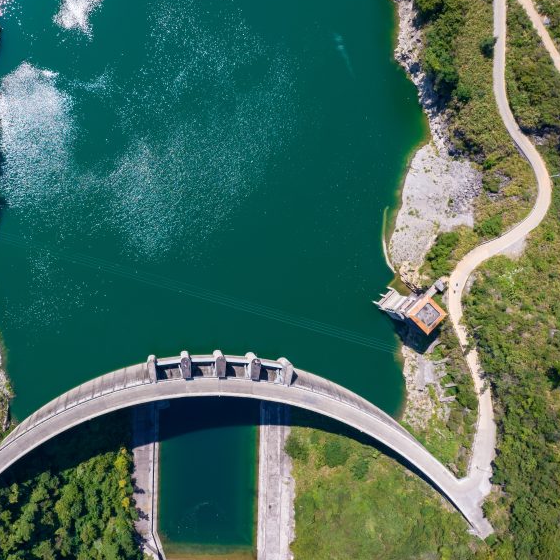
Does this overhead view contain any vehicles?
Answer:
No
